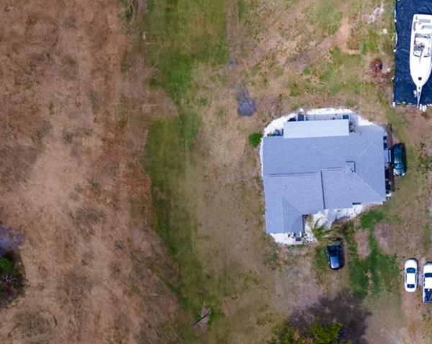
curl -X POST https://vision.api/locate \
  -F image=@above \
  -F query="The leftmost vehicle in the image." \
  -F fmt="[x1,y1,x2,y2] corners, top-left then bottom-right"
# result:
[327,243,342,271]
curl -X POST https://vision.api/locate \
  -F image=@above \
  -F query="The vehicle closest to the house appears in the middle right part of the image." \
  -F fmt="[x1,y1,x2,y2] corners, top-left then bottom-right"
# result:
[392,142,407,177]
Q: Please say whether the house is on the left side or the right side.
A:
right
